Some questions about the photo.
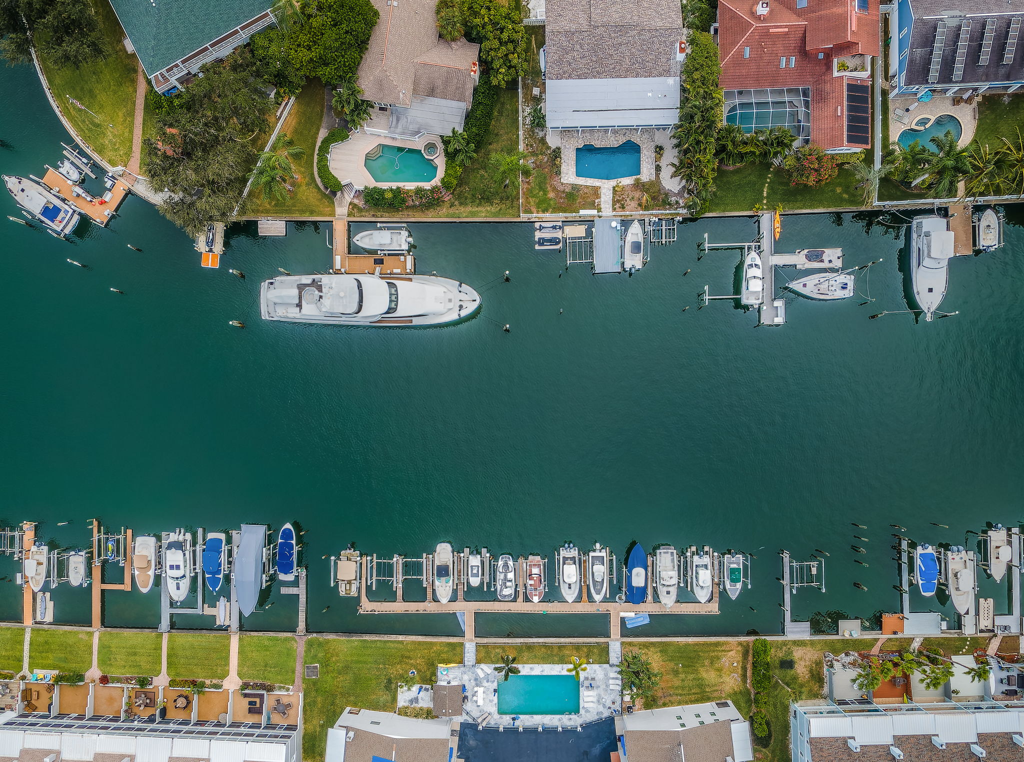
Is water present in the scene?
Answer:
Yes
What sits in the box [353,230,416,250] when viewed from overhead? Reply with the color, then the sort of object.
white boat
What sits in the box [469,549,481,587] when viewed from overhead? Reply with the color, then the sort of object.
white boat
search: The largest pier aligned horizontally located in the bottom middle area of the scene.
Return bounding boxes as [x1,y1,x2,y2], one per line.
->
[359,552,720,638]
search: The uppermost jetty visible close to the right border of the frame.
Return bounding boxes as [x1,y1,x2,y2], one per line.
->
[948,205,973,255]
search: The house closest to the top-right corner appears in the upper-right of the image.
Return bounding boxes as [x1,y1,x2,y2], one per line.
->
[888,0,1024,103]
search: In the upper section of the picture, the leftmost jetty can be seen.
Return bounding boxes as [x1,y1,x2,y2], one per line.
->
[42,169,133,227]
